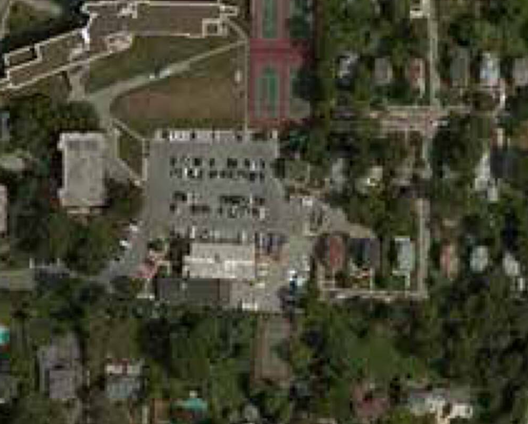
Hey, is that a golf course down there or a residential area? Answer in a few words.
residential area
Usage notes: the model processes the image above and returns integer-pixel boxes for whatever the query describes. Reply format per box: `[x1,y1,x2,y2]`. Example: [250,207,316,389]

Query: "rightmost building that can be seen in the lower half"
[501,251,520,275]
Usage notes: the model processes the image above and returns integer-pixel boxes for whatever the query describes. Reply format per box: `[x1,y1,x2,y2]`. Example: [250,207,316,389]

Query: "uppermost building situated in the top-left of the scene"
[0,1,236,90]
